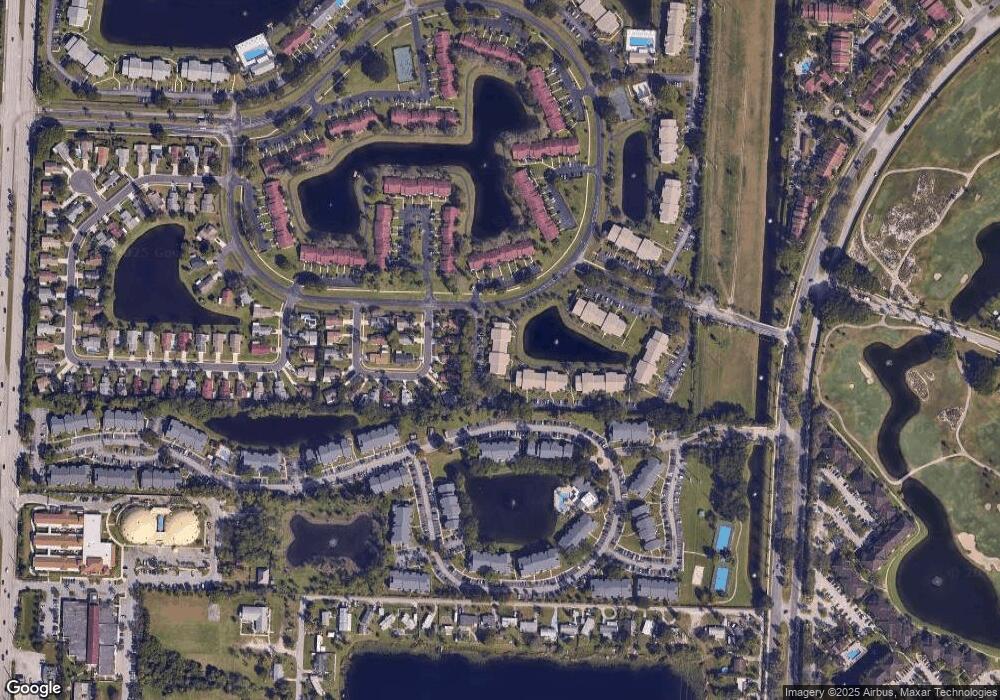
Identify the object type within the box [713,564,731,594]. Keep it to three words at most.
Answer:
tennis court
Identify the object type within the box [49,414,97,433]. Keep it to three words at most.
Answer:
building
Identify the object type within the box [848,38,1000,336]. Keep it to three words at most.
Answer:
golf course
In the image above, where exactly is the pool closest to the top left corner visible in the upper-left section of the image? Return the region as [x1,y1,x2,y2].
[234,35,271,69]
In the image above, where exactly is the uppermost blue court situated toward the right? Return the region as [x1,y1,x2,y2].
[713,521,734,555]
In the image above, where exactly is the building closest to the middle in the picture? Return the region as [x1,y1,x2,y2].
[488,323,512,376]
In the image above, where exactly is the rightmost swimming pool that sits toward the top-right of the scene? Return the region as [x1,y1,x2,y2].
[797,58,812,75]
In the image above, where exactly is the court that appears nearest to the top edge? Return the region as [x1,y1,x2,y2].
[394,46,411,84]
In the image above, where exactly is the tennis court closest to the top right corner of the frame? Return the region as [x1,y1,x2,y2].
[605,86,635,122]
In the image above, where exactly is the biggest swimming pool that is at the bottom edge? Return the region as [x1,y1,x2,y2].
[840,640,868,667]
